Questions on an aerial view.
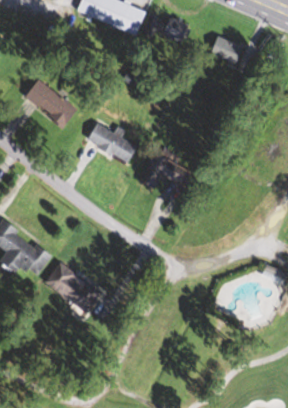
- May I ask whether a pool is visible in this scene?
Yes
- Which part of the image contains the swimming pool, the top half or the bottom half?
bottom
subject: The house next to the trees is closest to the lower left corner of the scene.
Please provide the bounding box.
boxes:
[44,263,88,308]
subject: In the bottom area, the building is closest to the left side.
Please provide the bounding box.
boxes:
[0,218,51,276]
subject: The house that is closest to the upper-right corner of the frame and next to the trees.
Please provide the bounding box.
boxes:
[212,36,241,64]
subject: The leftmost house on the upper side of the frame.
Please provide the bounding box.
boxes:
[26,82,80,131]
